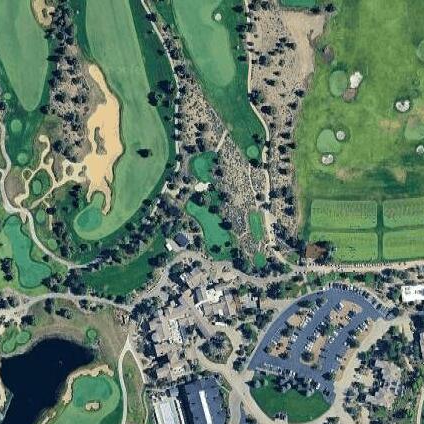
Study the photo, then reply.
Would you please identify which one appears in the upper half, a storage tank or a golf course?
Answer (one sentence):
Looking in the upper half, you will find a golf course.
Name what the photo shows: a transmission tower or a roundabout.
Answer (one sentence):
Looking from above, you can make out a roundabout.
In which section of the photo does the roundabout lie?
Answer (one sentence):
The roundabout is located in the bottom region of the scene.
